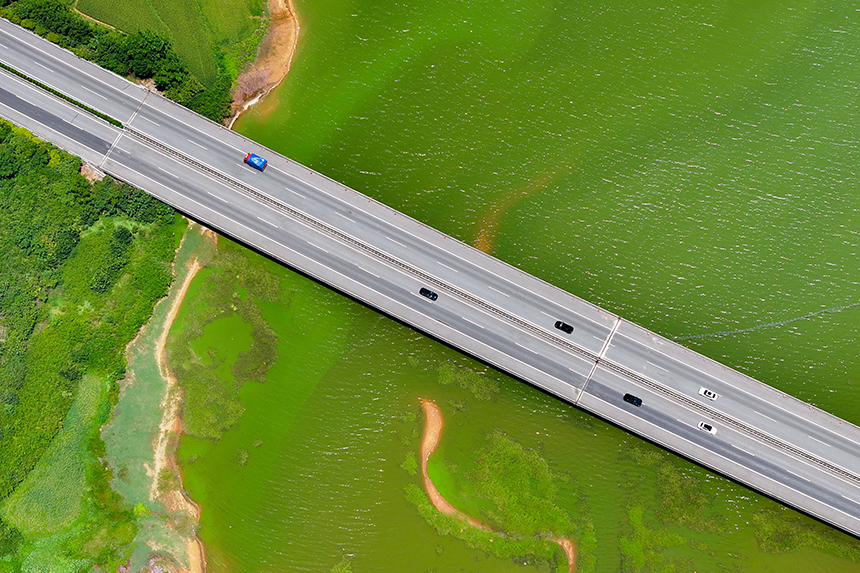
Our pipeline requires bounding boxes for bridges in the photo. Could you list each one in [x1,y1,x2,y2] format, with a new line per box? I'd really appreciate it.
[98,88,860,534]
